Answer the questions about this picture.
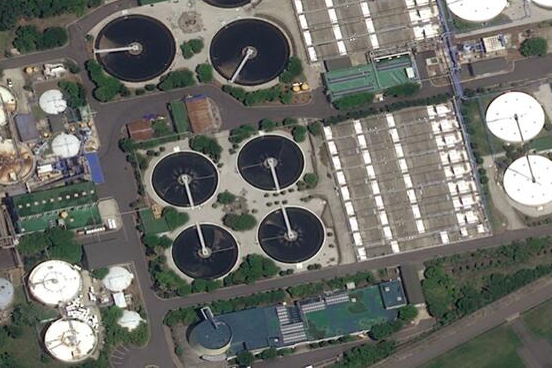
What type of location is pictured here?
industrial area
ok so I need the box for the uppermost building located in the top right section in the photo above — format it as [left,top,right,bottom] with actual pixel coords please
[484,34,505,57]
